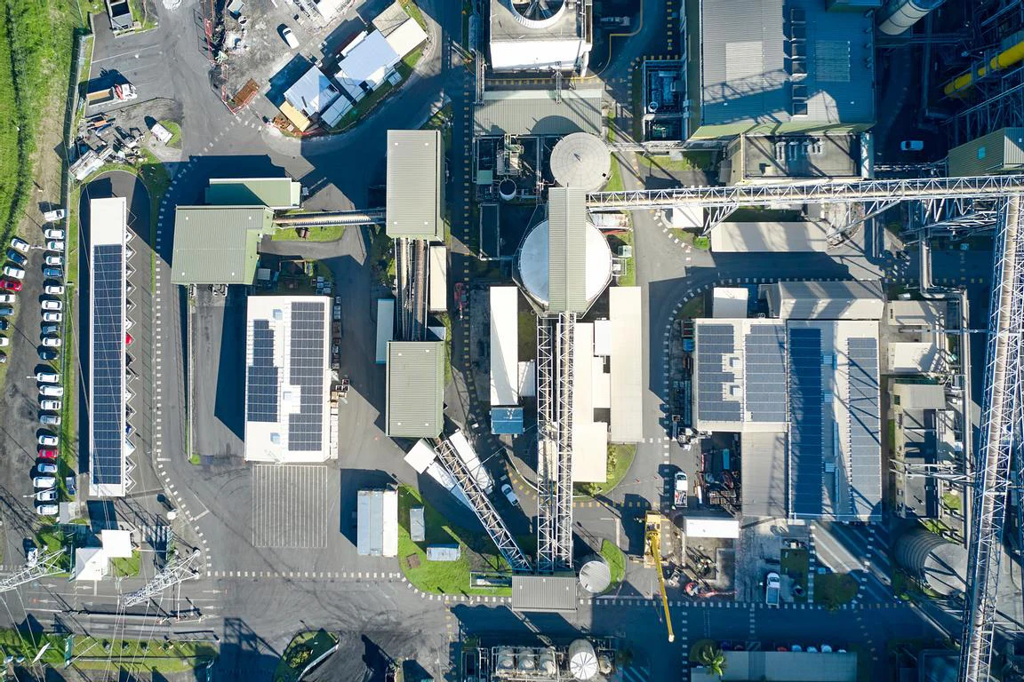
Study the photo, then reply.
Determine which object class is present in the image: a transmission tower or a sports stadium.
transmission tower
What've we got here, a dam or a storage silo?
storage silo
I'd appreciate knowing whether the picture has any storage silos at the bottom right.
Yes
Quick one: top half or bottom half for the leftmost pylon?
bottom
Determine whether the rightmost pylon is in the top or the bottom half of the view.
bottom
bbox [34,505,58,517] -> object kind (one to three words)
vehicle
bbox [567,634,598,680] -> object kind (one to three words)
storage tank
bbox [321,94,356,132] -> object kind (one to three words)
shed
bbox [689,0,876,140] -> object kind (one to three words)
building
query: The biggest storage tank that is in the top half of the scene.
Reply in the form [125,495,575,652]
[512,186,613,320]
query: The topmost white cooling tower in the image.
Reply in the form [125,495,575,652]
[490,0,596,69]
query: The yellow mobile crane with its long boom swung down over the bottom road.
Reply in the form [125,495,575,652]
[628,513,674,641]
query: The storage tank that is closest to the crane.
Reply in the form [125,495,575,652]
[575,549,611,593]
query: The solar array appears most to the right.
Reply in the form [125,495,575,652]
[848,338,880,517]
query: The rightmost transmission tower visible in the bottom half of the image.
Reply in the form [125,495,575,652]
[104,549,200,614]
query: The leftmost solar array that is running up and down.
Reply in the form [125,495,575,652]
[93,245,122,484]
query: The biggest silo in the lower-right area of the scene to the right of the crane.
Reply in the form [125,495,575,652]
[890,529,970,593]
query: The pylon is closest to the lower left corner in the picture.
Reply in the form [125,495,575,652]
[0,546,67,593]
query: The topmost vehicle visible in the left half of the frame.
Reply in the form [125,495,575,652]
[278,24,297,48]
